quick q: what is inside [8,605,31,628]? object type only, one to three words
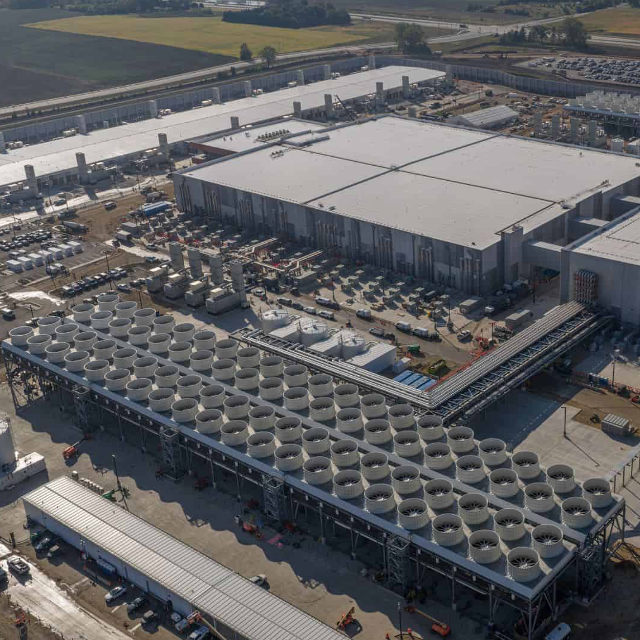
work vehicle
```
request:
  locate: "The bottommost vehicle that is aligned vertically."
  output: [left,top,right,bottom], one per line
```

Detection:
[11,546,26,576]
